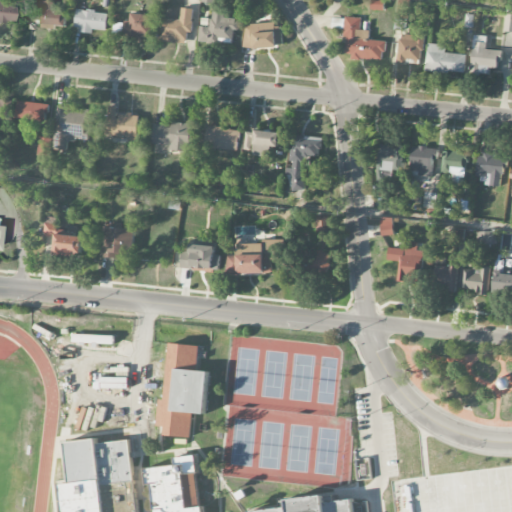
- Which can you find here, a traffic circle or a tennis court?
tennis court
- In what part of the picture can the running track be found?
bottom left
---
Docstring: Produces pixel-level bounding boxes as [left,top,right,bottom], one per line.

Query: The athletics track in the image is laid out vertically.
[0,320,59,512]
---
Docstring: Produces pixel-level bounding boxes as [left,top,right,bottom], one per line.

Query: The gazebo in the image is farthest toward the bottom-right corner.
[494,377,509,390]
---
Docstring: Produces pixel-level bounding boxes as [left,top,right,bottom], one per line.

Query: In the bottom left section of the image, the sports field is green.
[0,334,46,512]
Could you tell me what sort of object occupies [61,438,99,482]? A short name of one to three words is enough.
building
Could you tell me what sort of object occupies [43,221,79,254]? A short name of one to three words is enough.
house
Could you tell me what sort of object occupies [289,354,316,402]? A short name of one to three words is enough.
tennis court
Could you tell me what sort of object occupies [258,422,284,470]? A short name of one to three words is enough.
tennis court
